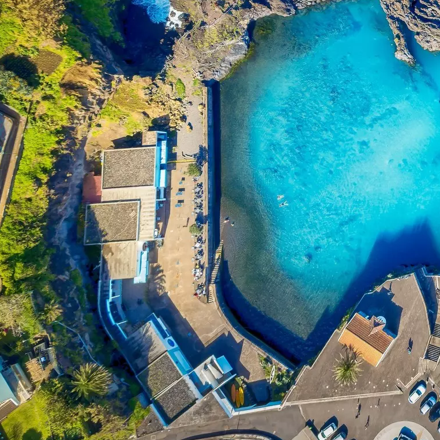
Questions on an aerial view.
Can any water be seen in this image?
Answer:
Yes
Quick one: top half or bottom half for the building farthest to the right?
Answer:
bottom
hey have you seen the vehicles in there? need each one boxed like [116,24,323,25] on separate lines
[426,402,440,427]
[319,420,338,440]
[405,383,427,409]
[395,432,417,440]
[334,430,349,440]
[417,394,439,419]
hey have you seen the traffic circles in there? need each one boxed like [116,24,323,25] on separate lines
[376,423,432,440]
